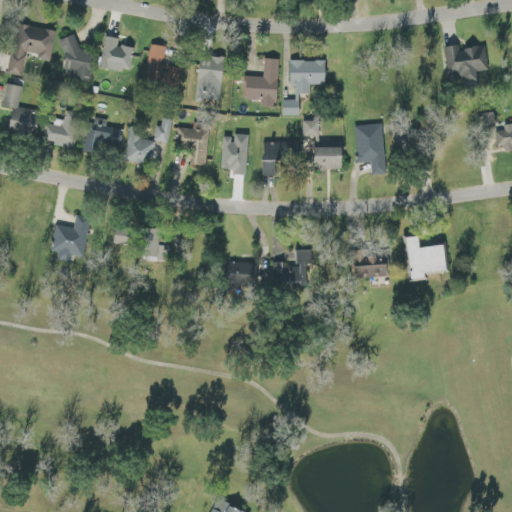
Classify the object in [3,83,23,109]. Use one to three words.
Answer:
building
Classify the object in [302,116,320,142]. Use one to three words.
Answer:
building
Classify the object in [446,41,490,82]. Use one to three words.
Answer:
house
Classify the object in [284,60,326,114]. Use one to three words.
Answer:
house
